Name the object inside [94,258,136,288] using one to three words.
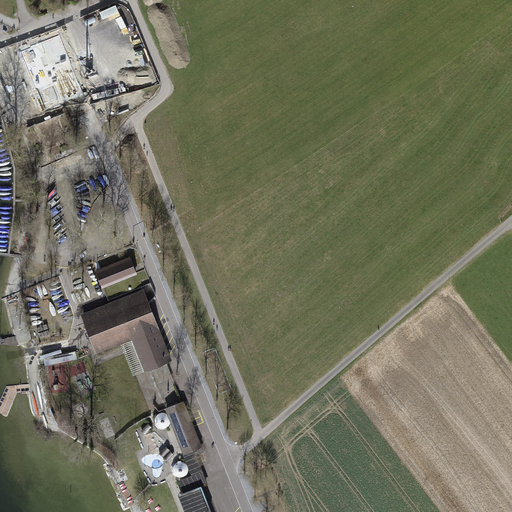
shed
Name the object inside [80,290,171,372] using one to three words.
building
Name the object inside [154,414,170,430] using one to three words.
umbrella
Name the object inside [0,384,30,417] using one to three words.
pier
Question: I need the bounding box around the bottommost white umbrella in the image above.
[172,462,188,478]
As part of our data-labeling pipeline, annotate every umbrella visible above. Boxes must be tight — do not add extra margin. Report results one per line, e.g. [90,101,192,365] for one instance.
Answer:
[172,462,188,478]
[154,414,170,430]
